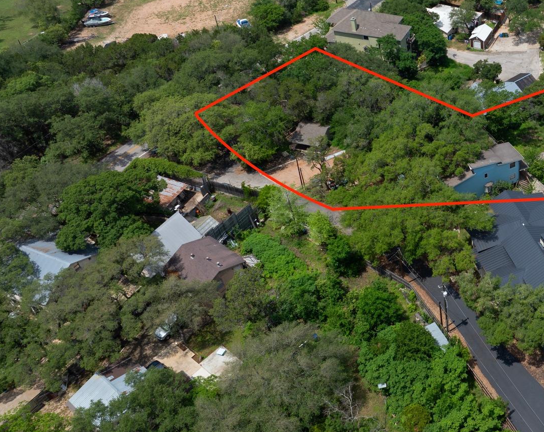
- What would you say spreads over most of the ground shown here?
trees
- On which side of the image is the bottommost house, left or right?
left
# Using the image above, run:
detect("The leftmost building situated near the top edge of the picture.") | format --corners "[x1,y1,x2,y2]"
[326,7,416,60]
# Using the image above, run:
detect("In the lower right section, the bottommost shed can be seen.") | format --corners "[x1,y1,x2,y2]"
[426,322,448,353]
